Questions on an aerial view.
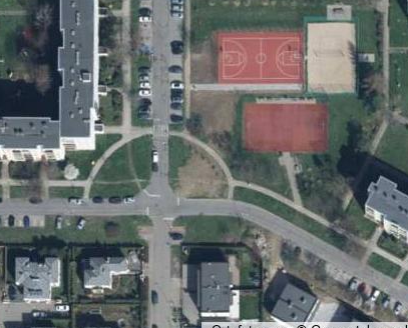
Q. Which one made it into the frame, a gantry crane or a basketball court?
basketball court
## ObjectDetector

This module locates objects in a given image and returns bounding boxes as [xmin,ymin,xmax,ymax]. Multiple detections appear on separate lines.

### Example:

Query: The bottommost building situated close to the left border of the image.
[16,255,60,302]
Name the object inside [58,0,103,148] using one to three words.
building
